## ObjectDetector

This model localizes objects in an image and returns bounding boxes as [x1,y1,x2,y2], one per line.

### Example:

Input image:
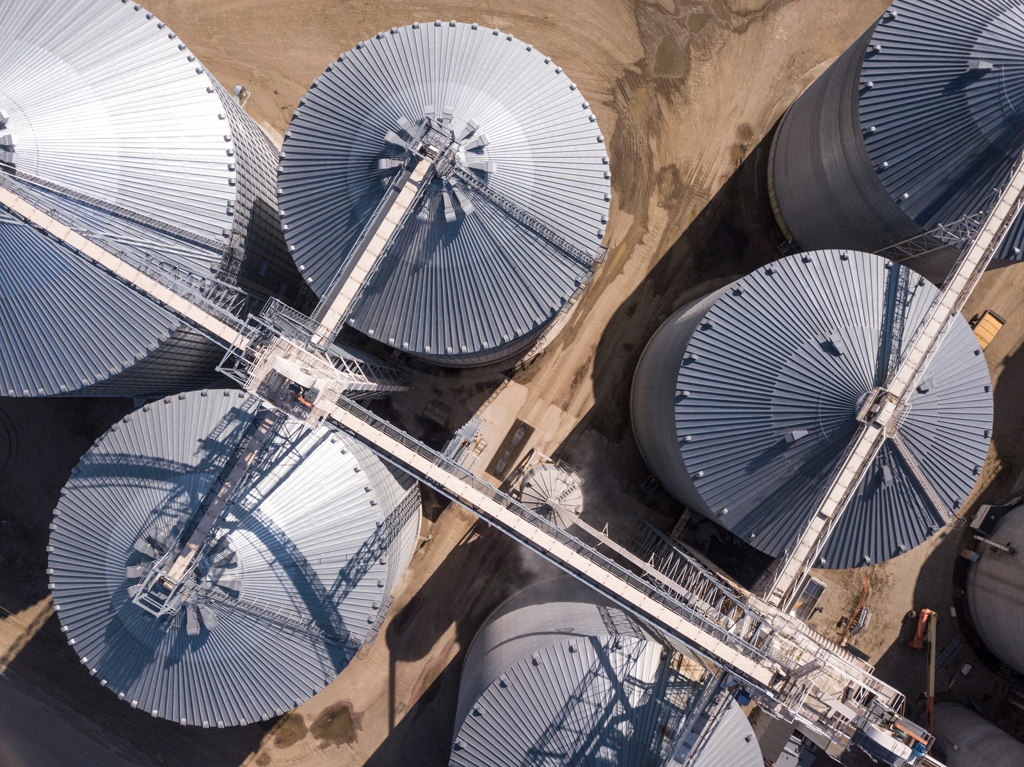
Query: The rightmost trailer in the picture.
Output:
[968,310,1006,353]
